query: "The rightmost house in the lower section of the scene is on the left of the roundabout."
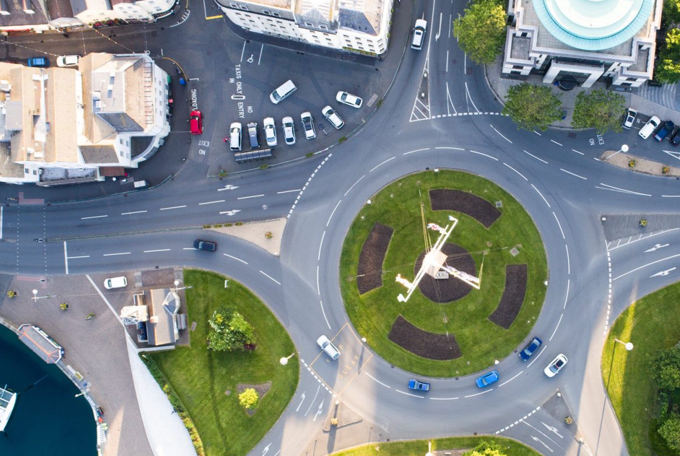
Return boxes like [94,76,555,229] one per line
[115,288,186,346]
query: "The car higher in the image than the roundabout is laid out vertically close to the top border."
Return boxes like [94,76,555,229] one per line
[413,20,427,49]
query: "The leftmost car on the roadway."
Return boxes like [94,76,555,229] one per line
[26,55,50,68]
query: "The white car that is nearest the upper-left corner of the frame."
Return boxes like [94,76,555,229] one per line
[55,54,81,67]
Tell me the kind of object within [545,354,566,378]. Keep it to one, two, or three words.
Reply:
car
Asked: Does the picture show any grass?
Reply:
Yes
